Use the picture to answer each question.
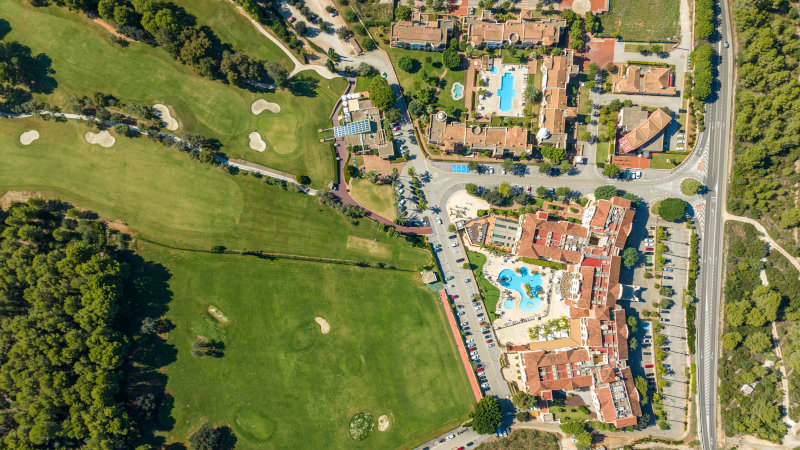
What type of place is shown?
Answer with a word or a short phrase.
golf course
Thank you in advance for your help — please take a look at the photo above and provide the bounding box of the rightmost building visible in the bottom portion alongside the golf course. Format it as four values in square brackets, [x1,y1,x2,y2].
[505,196,642,428]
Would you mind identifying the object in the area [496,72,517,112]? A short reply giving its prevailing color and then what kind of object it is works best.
blue swimming pool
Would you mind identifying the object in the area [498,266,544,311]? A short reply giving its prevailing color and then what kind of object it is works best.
blue swimming pool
